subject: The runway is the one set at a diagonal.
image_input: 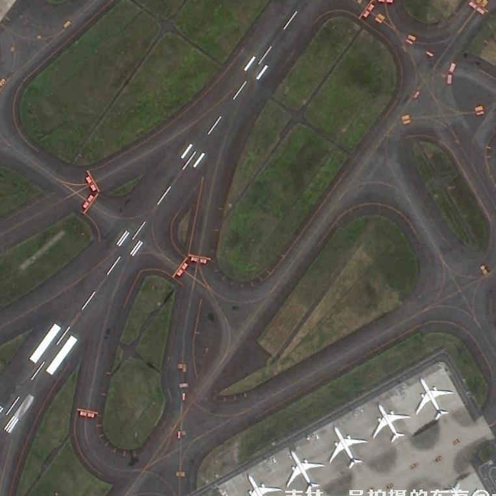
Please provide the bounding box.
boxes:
[0,0,311,433]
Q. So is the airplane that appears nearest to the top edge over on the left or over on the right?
right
